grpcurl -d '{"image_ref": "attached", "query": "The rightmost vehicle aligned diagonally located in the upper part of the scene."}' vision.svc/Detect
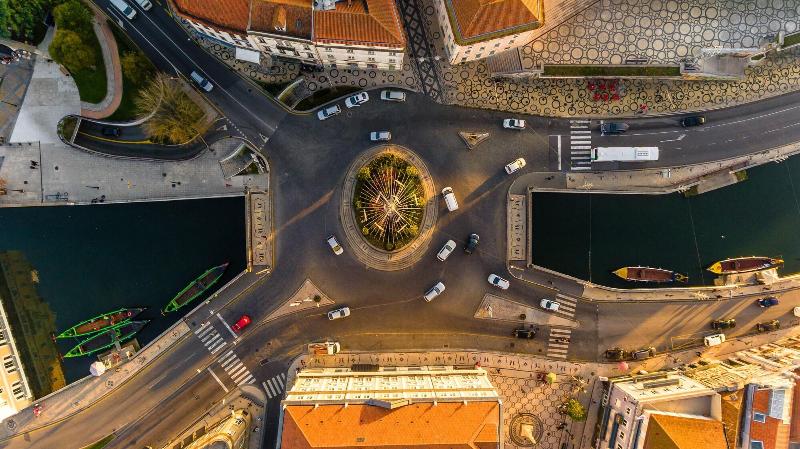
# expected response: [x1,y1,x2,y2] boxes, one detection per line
[503,155,528,175]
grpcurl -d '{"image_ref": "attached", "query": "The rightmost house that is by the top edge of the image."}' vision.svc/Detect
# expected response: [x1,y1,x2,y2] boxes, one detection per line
[438,0,546,59]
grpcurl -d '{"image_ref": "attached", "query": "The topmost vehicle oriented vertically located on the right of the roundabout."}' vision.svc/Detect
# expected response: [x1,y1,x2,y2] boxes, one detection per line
[442,187,456,212]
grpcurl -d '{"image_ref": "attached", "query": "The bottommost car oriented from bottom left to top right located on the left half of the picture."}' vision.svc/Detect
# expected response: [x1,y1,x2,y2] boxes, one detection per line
[230,315,251,335]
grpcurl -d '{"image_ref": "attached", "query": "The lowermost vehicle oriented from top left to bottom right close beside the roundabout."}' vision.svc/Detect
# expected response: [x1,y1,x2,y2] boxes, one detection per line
[326,234,343,256]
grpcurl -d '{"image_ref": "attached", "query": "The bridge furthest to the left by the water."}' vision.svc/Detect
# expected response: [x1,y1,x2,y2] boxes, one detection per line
[245,190,267,273]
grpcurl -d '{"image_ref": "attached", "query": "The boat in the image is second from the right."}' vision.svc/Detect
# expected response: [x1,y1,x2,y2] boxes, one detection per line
[615,266,692,283]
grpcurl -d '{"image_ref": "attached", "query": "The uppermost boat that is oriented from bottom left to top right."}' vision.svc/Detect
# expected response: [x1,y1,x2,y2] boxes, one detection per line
[159,262,227,315]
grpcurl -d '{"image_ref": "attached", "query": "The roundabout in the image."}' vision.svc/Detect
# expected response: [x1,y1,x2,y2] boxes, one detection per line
[338,145,438,272]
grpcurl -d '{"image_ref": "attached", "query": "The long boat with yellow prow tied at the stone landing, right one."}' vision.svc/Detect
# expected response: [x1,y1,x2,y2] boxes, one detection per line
[710,255,791,273]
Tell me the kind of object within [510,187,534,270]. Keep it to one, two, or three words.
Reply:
bridge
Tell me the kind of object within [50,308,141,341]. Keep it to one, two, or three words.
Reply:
boat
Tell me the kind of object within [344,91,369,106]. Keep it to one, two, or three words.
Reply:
car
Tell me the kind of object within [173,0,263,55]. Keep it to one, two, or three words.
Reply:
house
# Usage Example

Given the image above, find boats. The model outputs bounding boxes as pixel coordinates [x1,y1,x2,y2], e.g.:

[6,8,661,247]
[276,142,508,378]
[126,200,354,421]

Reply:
[159,262,227,315]
[50,308,141,341]
[710,255,791,273]
[60,320,146,360]
[615,266,692,283]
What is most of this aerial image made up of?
paved ground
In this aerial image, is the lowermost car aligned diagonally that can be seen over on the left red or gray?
red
